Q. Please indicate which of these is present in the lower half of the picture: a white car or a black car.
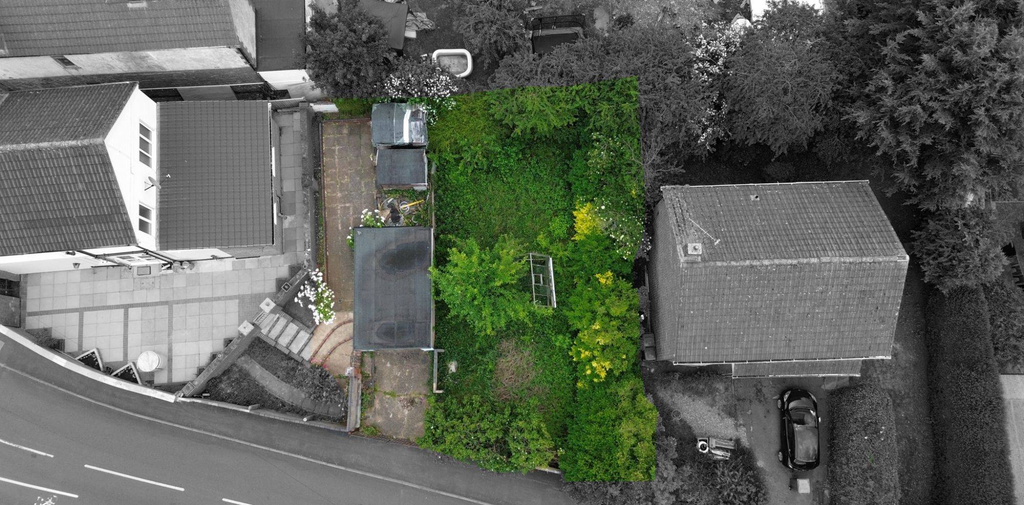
black car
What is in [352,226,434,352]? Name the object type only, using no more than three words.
building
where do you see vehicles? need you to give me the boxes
[776,388,826,475]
